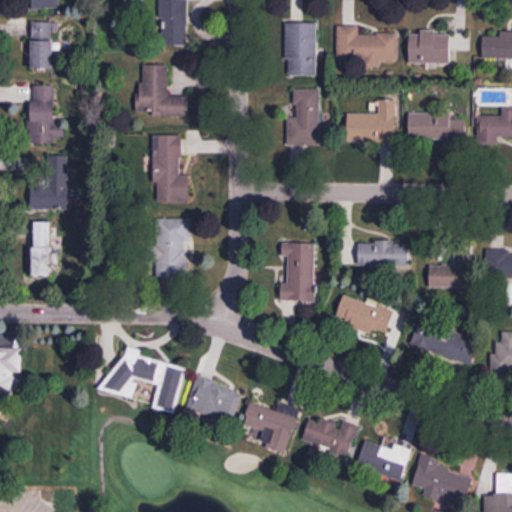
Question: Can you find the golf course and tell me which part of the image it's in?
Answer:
bottom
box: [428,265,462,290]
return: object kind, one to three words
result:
house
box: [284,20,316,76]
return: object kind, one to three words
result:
house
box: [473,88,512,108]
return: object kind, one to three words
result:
swimming pool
